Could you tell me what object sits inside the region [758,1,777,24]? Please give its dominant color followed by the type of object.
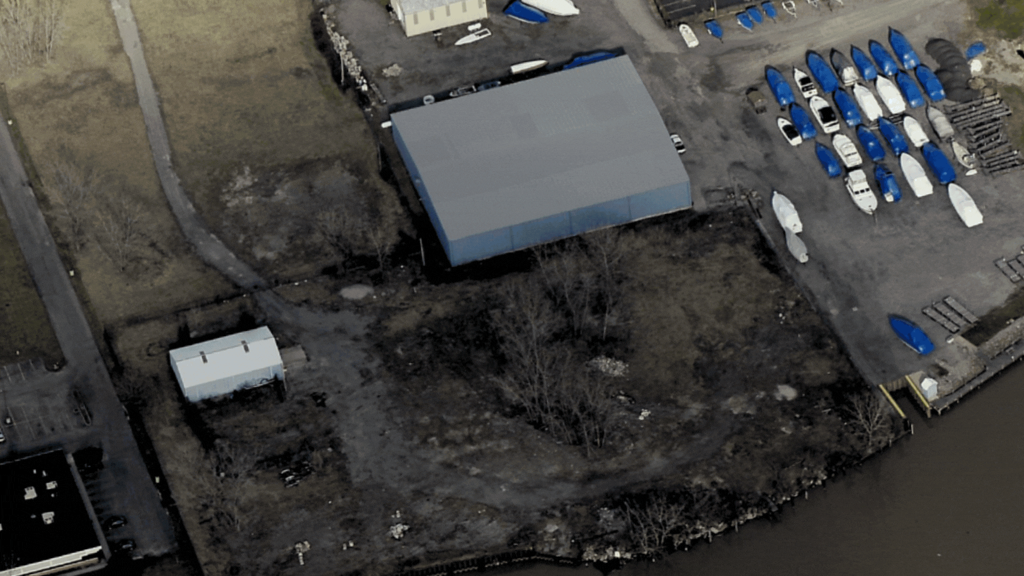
blue boat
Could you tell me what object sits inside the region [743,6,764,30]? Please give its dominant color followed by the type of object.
blue boat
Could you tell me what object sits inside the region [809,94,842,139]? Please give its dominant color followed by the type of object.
white boat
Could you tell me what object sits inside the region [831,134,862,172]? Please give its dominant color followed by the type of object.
white boat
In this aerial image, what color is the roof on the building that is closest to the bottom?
black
